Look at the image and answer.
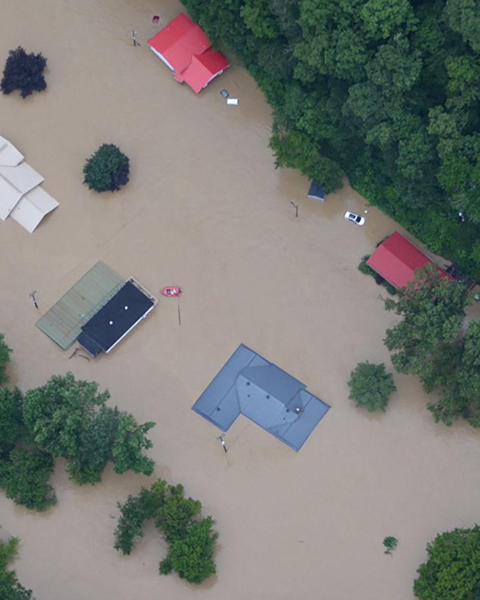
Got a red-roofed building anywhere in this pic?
Yes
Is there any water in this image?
Yes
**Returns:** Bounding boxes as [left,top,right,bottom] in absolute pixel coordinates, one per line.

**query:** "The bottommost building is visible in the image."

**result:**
[192,343,332,453]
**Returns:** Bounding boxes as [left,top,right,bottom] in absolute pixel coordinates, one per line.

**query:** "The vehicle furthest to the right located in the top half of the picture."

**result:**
[343,211,366,226]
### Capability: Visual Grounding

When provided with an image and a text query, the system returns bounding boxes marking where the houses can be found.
[192,343,332,453]
[36,261,158,357]
[147,13,230,94]
[0,136,59,234]
[366,232,450,300]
